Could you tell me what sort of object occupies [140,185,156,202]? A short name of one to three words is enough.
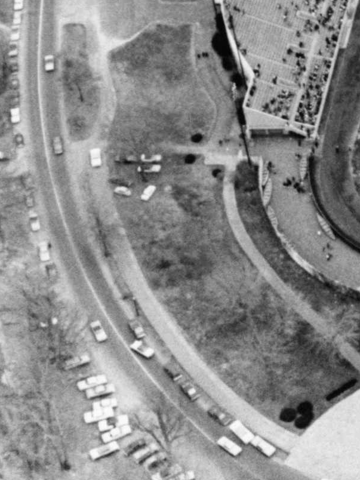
car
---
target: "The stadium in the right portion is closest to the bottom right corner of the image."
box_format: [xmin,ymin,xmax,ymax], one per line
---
[154,146,360,366]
